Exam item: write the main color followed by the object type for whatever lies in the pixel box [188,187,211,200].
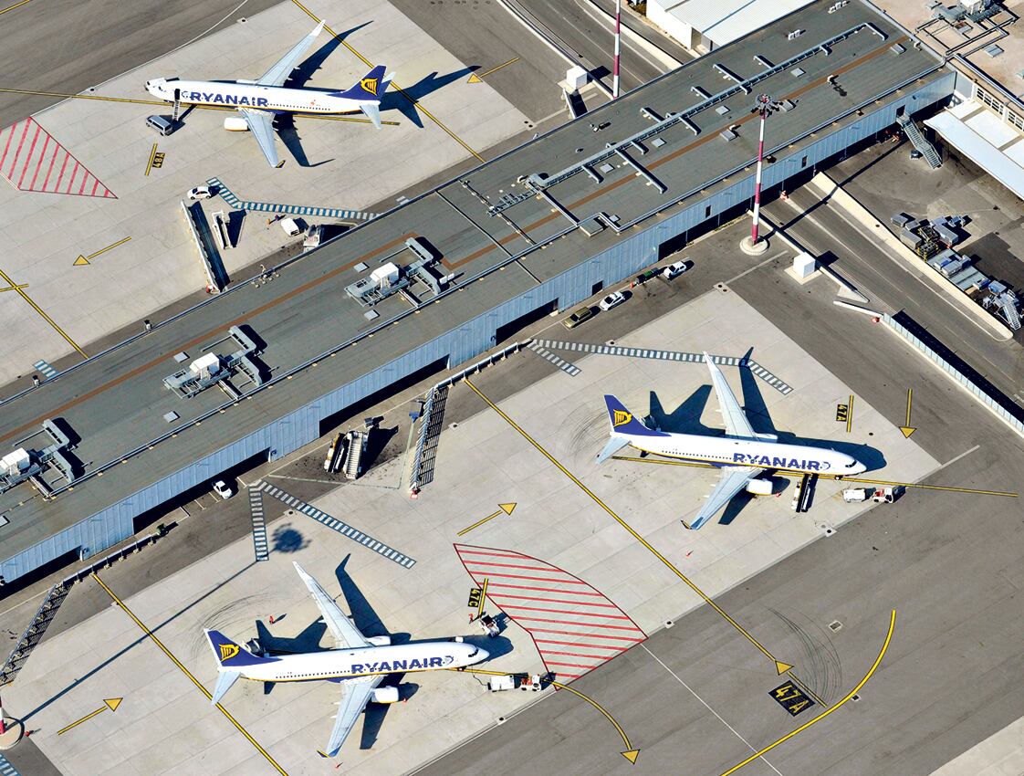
white vehicle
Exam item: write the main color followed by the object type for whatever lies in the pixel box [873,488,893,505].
white work vehicle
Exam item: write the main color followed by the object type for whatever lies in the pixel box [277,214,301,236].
white vehicle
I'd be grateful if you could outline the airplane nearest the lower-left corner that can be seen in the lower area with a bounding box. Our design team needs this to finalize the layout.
[205,560,488,756]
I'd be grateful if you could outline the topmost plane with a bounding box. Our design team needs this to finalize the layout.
[151,20,394,167]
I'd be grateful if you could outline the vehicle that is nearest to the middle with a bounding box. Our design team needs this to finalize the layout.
[566,309,596,329]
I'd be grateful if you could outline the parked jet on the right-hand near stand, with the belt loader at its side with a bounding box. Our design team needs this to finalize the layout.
[597,351,866,531]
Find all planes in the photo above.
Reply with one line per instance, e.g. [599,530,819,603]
[151,20,394,167]
[597,351,866,531]
[205,560,488,756]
